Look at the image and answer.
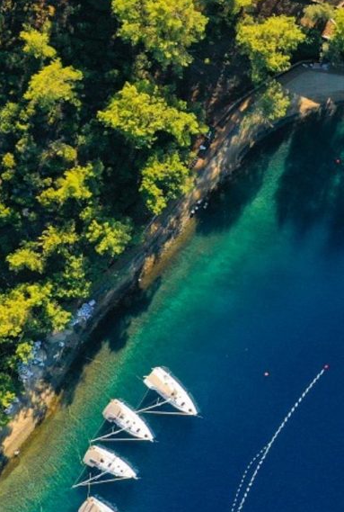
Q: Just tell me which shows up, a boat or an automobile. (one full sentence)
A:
Visible in the photo is a boat.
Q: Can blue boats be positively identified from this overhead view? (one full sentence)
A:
No, no blue boat is visible in the view.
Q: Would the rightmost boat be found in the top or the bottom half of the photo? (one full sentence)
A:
Seen from above, the rightmost boat lies in the bottom half of the view.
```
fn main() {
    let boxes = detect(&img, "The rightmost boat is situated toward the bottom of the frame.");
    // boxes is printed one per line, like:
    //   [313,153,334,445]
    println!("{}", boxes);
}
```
[130,357,195,416]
